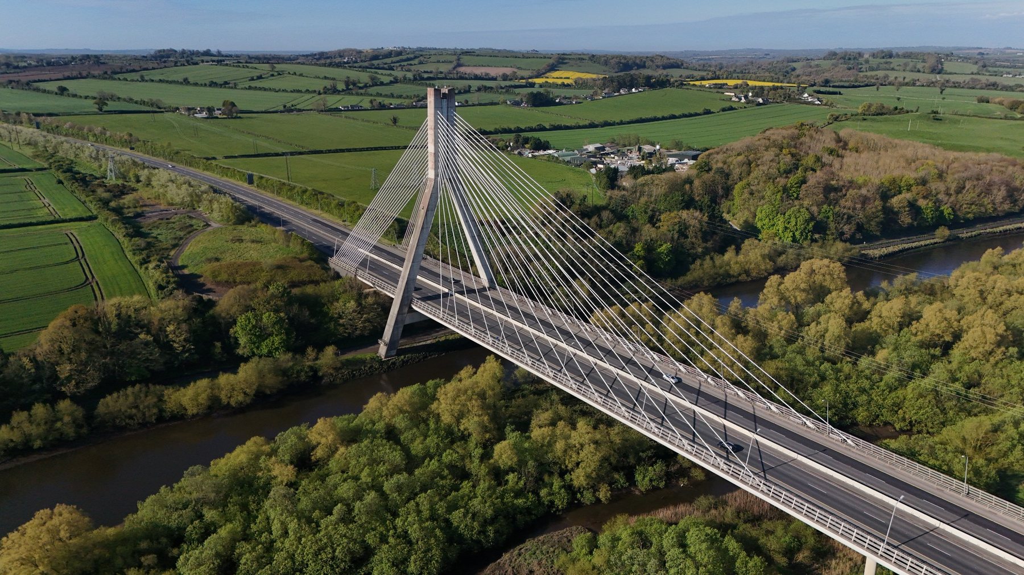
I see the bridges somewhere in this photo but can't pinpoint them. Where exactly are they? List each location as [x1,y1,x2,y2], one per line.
[333,79,1024,575]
